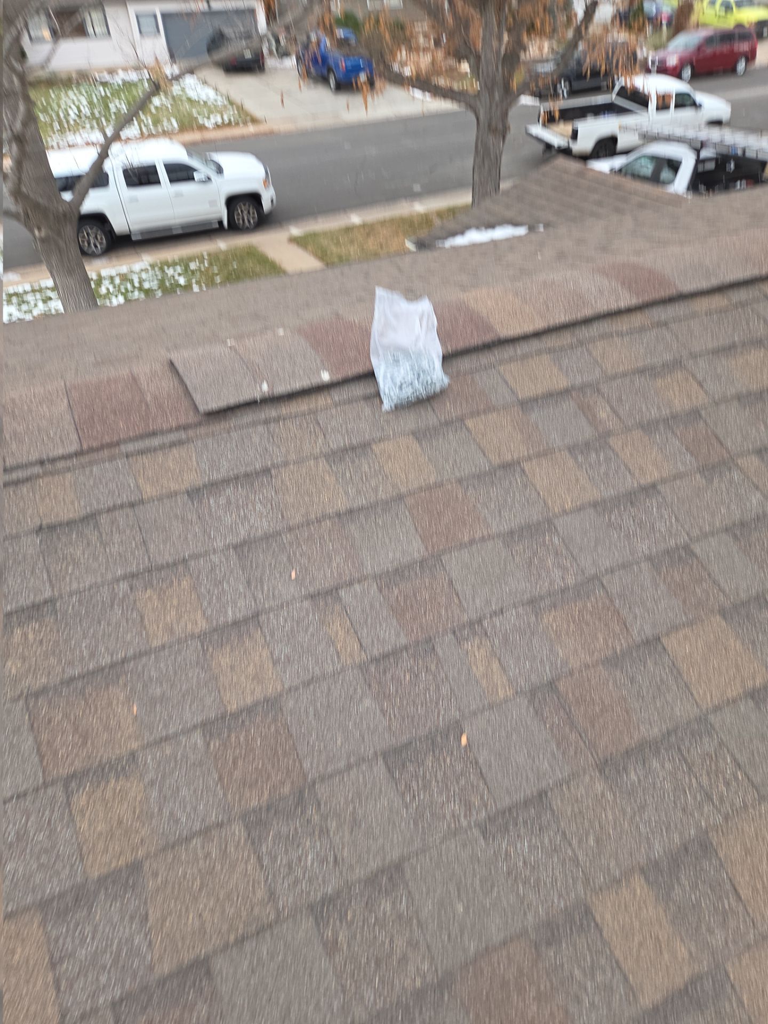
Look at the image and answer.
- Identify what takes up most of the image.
buildings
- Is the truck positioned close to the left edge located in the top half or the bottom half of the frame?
top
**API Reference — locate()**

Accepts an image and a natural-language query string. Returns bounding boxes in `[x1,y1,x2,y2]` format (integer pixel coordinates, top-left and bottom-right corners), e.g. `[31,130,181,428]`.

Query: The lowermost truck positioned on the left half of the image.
[17,137,274,257]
